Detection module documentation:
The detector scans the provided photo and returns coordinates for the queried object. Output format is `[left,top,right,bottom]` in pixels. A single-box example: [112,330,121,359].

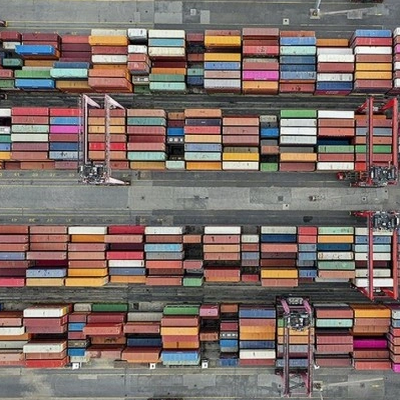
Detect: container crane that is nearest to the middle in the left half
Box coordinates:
[78,92,134,185]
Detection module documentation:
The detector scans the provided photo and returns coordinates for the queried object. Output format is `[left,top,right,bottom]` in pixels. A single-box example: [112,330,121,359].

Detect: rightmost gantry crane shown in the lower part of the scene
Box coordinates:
[348,209,400,301]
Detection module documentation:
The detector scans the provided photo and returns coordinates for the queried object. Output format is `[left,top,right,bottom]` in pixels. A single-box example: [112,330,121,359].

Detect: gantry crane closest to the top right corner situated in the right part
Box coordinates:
[348,95,399,186]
